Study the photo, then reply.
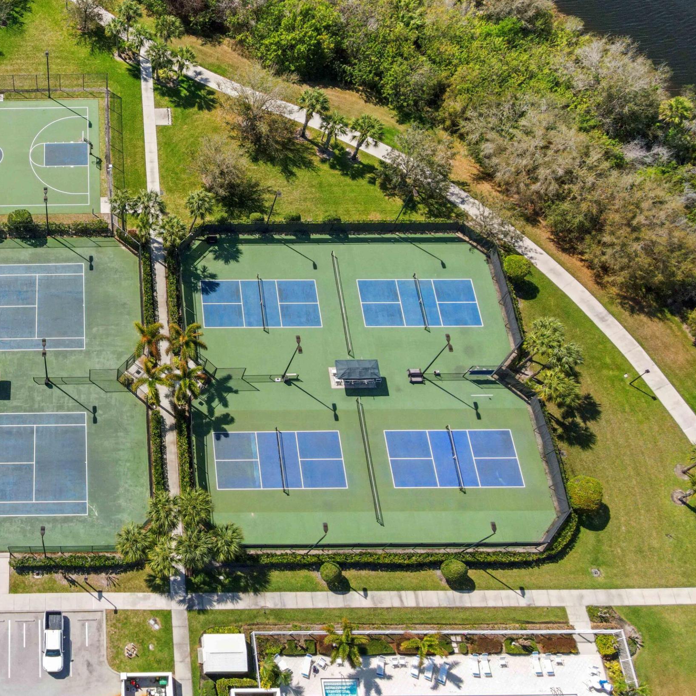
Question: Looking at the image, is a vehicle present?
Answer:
Yes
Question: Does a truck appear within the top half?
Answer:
No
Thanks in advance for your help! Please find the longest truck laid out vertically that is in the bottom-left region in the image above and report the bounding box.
[39,608,66,673]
